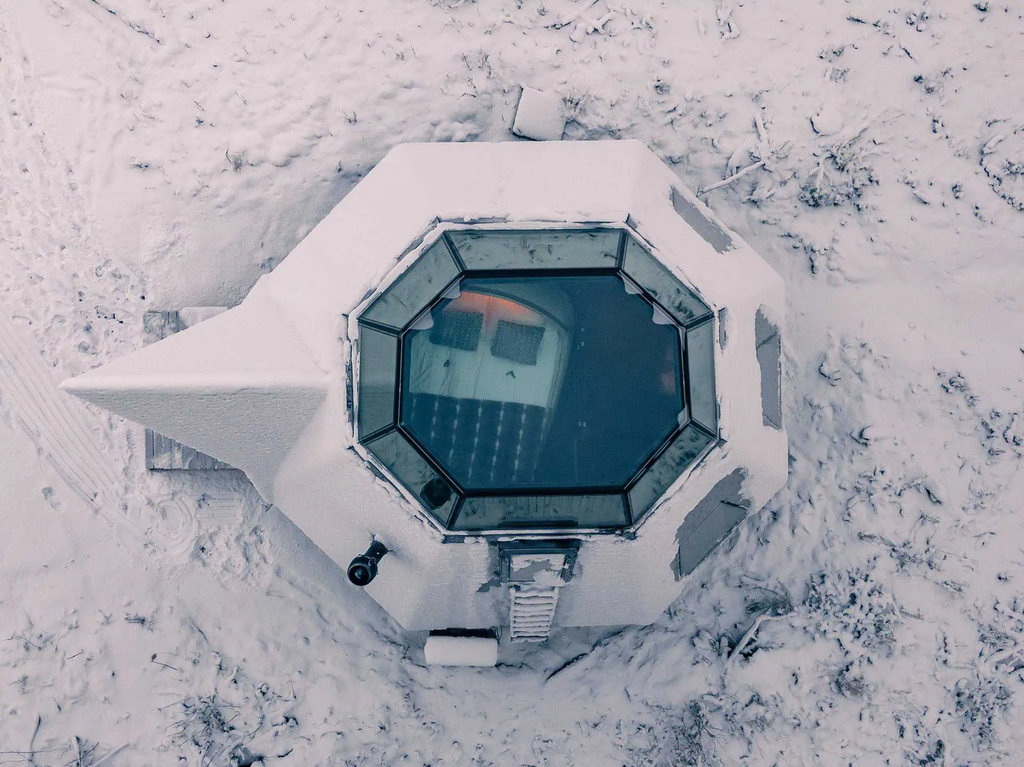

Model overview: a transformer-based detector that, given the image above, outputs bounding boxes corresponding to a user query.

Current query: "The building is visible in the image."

[59,141,787,627]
